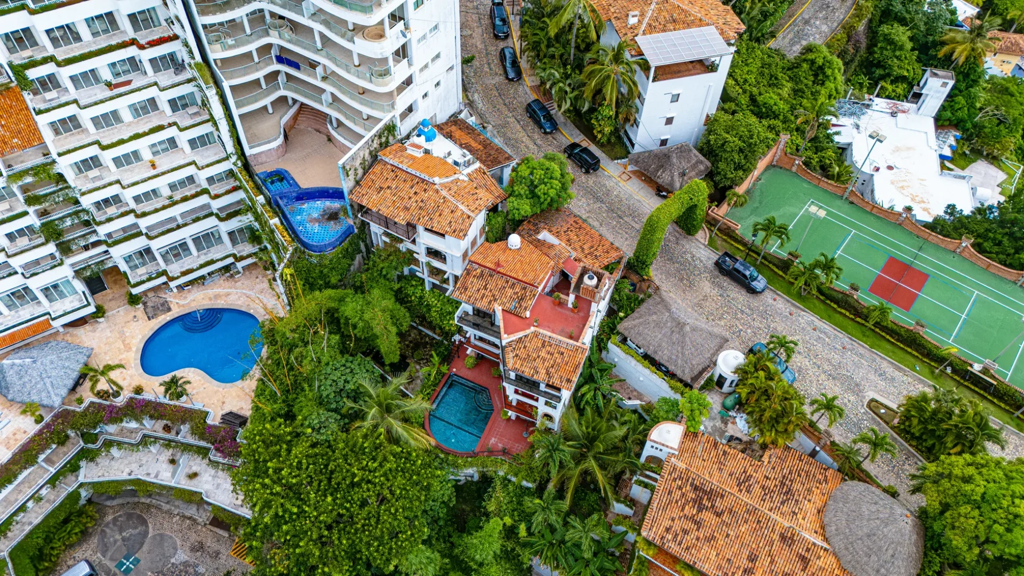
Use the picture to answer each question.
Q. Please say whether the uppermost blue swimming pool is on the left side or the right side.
left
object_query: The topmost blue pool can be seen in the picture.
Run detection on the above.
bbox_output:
[265,169,301,195]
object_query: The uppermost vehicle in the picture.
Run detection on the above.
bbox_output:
[487,0,512,36]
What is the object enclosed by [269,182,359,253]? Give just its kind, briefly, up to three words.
swimming pool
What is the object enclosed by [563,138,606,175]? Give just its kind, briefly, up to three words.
car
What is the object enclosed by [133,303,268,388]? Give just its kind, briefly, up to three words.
swimming pool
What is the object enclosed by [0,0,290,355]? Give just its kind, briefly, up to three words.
building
